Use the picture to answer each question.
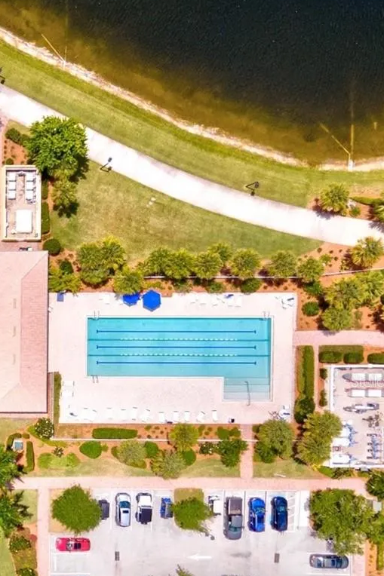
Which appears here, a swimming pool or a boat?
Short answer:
swimming pool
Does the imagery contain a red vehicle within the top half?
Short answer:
No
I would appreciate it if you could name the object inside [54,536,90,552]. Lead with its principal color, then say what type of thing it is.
red car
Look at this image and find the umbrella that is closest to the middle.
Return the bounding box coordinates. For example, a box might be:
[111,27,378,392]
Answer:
[141,290,160,311]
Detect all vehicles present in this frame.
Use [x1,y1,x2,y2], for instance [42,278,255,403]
[95,497,110,518]
[134,492,152,524]
[246,497,265,531]
[307,552,347,569]
[206,494,221,515]
[157,496,172,517]
[114,491,133,527]
[223,496,244,538]
[54,536,90,552]
[269,496,289,531]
